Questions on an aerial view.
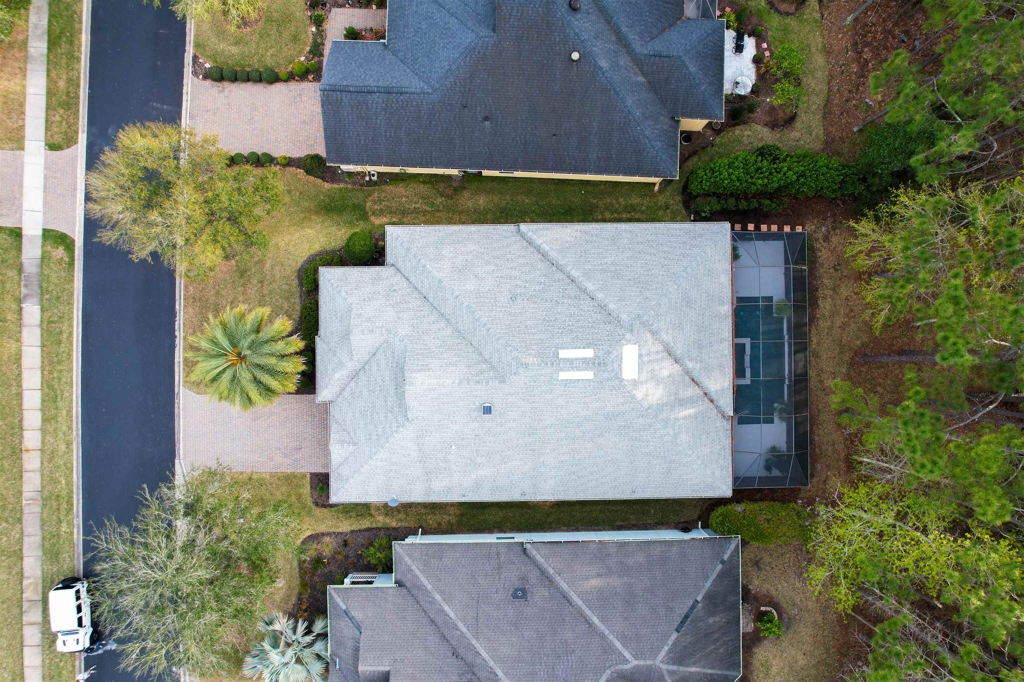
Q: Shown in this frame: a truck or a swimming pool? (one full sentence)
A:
Visible in the photo is a swimming pool.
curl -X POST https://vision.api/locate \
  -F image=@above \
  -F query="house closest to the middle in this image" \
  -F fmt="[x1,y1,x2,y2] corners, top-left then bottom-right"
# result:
[314,220,734,505]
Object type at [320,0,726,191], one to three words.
house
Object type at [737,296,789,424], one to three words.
swimming pool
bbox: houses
[314,220,734,505]
[326,521,743,682]
[320,0,726,191]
